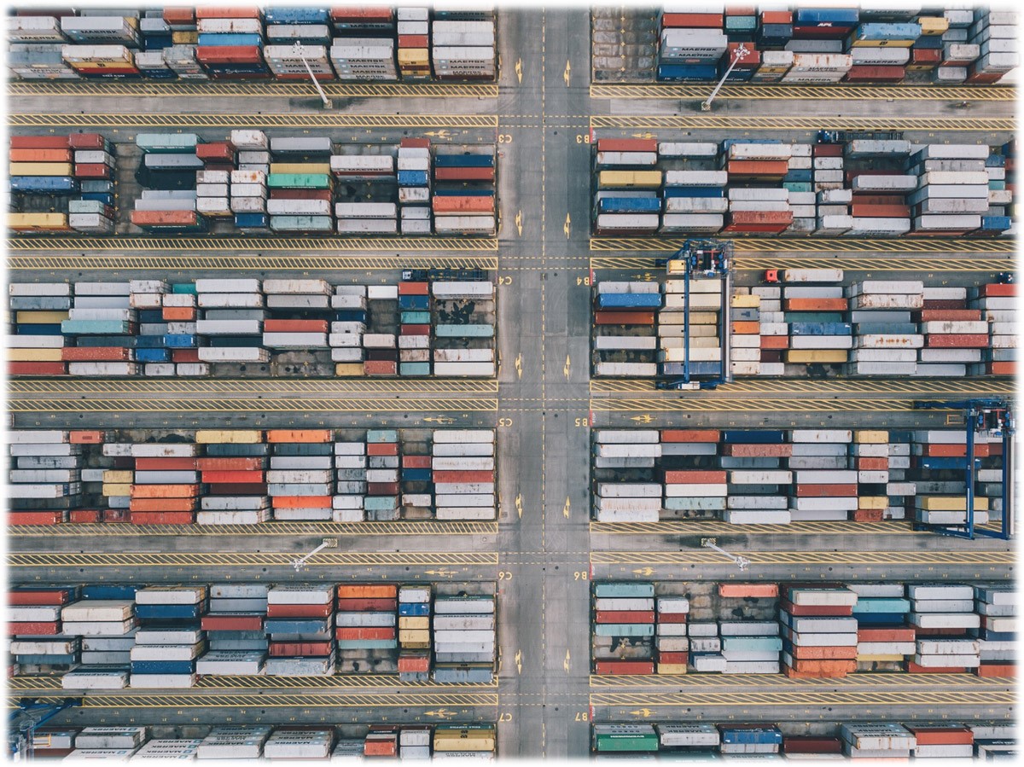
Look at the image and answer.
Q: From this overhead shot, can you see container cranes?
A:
Yes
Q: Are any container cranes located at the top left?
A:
No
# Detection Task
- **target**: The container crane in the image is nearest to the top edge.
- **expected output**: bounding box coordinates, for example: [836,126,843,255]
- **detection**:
[648,239,739,389]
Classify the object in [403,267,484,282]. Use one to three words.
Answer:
vehicle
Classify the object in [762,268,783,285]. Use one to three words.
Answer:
vehicle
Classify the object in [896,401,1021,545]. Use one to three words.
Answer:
container crane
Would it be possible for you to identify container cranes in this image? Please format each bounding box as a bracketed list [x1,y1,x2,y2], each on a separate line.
[896,401,1021,545]
[0,700,99,767]
[648,239,739,389]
